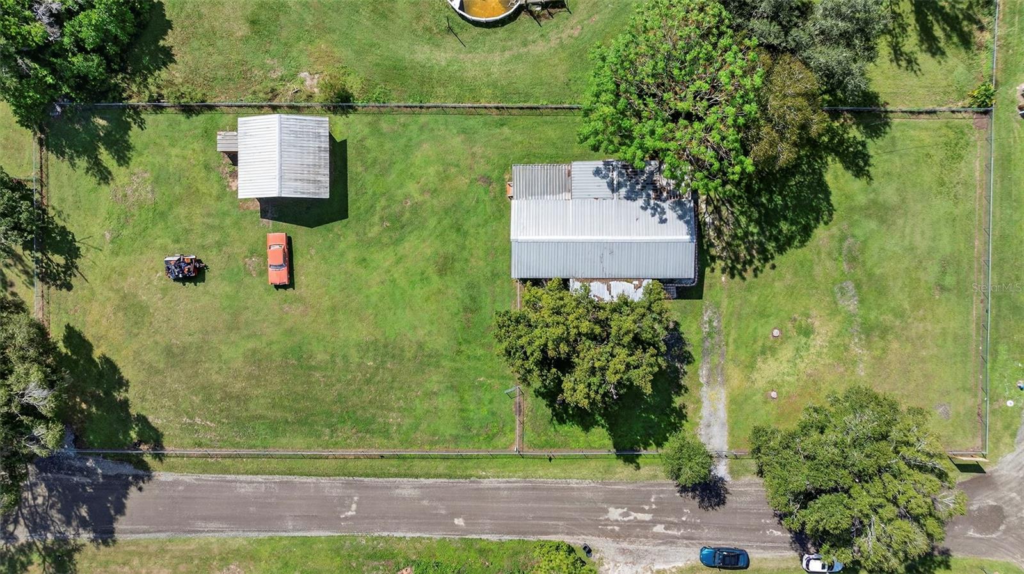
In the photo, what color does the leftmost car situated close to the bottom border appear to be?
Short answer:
blue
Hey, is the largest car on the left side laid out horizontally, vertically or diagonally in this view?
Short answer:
vertically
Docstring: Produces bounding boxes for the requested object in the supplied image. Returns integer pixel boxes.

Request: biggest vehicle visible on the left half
[265,232,289,285]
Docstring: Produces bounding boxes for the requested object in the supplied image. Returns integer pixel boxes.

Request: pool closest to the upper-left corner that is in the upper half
[448,0,523,27]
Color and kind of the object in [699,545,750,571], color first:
blue car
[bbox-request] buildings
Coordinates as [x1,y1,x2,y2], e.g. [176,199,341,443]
[511,199,699,279]
[238,113,332,198]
